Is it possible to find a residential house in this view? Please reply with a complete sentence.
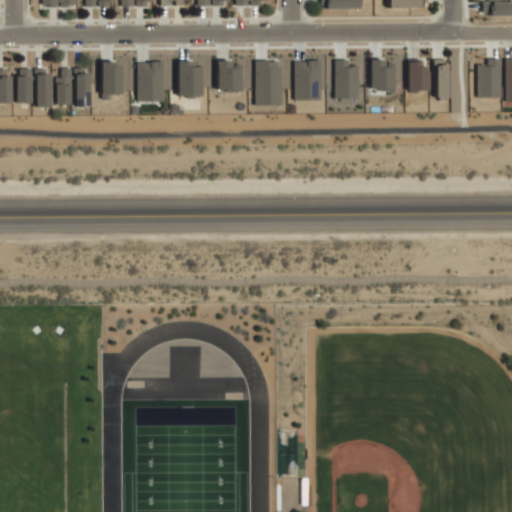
Yes, the photo shows a residential house.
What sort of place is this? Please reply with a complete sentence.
It's a sports ground.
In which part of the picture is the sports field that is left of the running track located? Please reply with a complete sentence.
The sports field that is left of the running track appears toward the bottom left of the photo.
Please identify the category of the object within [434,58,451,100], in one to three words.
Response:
house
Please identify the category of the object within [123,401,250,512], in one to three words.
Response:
sports field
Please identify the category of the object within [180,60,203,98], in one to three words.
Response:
house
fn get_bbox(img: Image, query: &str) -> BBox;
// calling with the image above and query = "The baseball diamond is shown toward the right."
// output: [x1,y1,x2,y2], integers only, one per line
[306,327,512,512]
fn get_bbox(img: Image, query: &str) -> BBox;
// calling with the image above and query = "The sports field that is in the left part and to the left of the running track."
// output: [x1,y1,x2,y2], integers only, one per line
[0,305,102,512]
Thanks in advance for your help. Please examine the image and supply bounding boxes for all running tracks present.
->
[102,320,269,512]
